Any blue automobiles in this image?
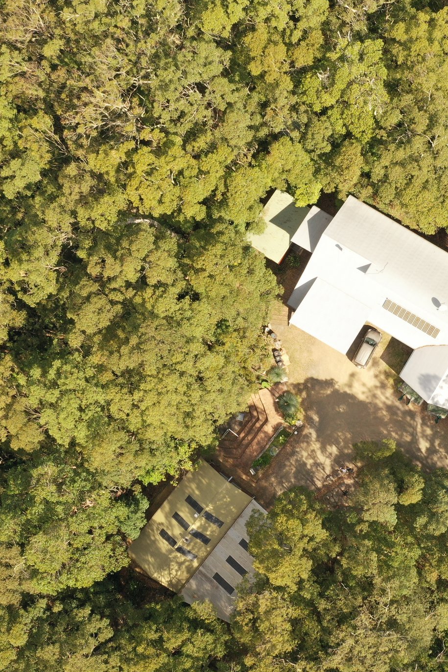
No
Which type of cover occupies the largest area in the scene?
trees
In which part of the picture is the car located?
right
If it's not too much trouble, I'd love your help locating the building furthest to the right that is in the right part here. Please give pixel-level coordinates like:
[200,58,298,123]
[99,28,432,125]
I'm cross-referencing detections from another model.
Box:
[287,195,448,408]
